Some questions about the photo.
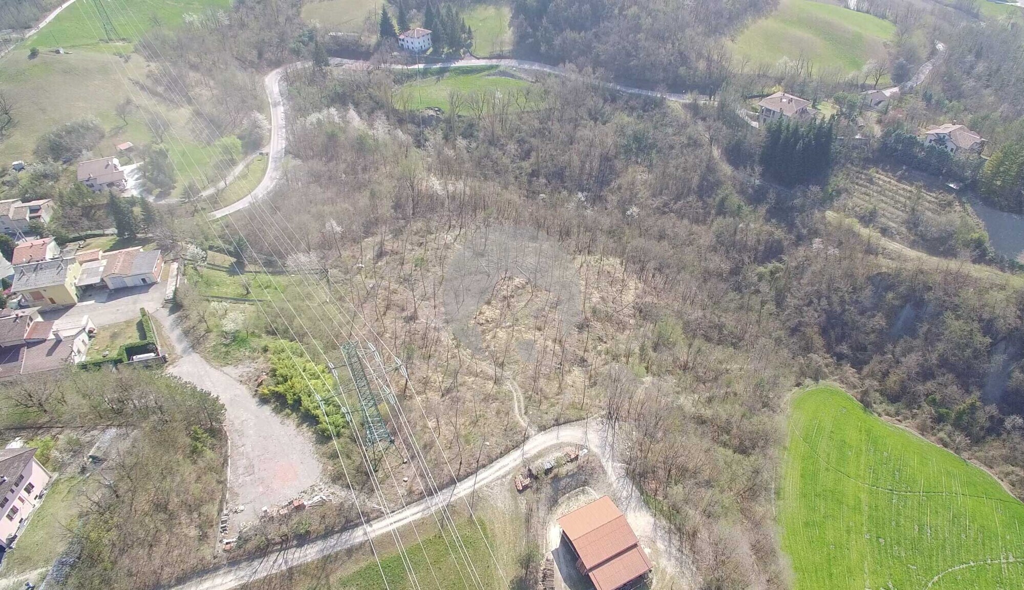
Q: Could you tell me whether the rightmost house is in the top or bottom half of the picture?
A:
top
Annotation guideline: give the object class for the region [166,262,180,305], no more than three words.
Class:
shed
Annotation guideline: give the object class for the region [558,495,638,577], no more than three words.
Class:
barn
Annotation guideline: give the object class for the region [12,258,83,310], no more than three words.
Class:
house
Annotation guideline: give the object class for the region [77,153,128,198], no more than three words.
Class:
house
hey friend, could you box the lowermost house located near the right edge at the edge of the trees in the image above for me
[924,125,989,163]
